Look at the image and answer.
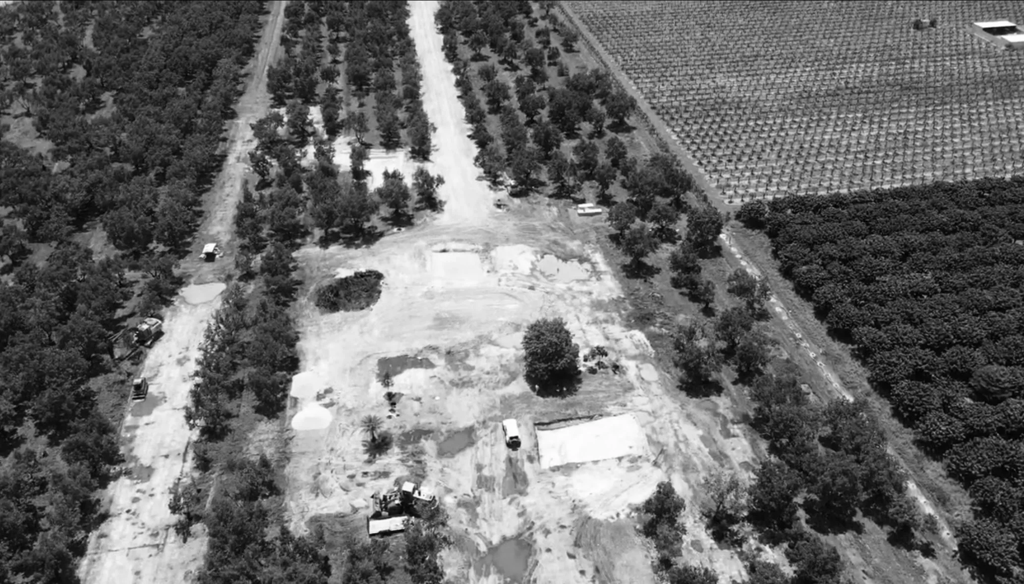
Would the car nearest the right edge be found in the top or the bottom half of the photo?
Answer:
bottom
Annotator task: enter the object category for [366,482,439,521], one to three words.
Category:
work vehicle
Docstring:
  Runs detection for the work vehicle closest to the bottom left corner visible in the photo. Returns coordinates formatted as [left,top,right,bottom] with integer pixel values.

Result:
[130,379,150,407]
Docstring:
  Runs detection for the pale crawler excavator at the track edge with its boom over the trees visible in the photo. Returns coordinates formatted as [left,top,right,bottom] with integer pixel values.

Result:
[110,320,171,361]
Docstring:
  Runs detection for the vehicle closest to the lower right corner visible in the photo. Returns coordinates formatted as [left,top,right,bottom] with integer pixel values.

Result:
[502,420,525,451]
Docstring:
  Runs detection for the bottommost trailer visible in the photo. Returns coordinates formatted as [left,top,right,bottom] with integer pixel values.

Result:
[368,516,416,538]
